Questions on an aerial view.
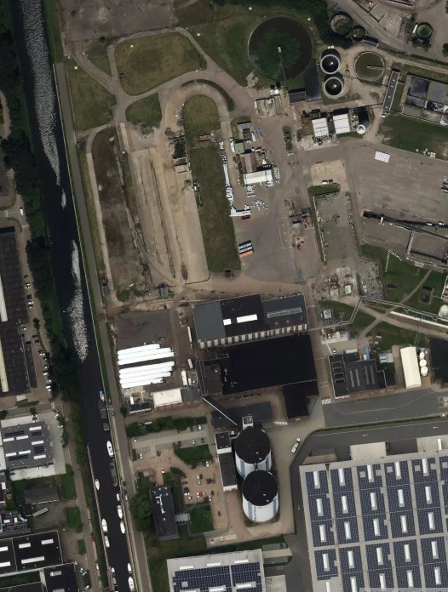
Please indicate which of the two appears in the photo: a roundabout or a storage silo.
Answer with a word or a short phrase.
storage silo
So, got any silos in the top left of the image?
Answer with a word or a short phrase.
No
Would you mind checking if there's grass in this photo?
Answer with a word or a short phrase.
Yes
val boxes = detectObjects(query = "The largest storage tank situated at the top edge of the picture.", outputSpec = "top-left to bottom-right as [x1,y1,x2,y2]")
[249,19,312,79]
